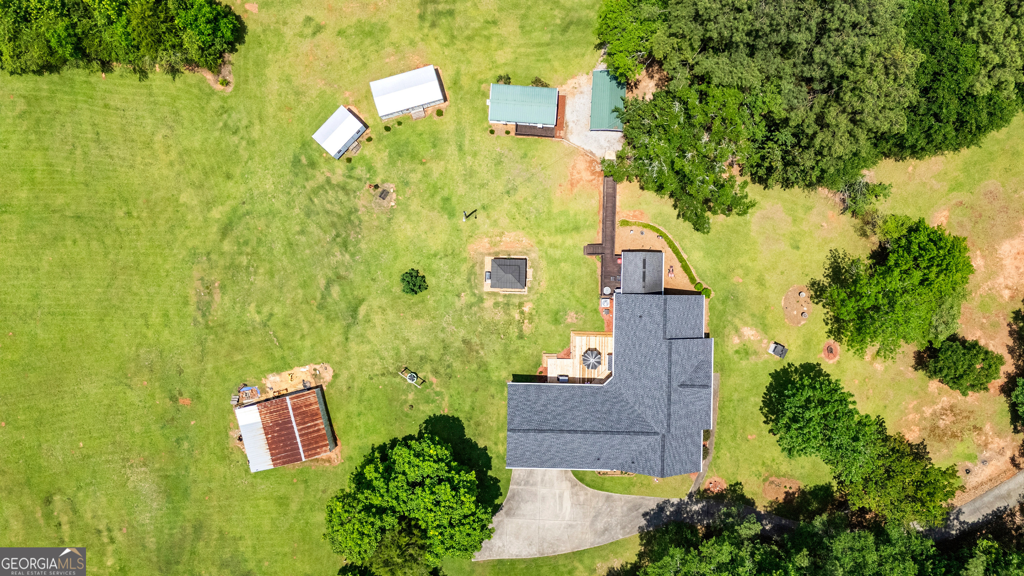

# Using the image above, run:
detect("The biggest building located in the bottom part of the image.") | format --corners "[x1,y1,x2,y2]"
[505,252,715,478]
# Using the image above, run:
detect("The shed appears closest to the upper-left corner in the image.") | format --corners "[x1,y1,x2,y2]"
[312,105,366,159]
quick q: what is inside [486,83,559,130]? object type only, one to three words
house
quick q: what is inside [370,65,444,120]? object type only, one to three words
shed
